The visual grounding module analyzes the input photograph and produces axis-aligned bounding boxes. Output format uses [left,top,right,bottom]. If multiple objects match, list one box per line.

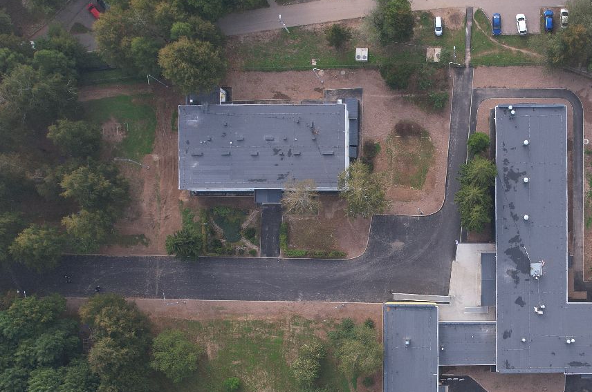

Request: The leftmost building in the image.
[178,86,360,204]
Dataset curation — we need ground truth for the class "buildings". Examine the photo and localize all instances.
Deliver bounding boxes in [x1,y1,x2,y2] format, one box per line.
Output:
[383,302,448,392]
[178,86,360,204]
[481,105,592,378]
